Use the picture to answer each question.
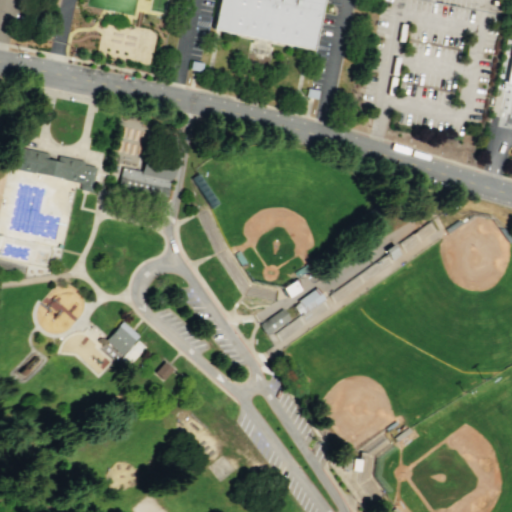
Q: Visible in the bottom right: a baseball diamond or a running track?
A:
baseball diamond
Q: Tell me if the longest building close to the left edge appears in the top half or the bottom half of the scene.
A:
top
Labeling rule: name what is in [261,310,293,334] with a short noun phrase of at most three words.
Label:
building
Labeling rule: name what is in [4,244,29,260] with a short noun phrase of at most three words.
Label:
swimming pool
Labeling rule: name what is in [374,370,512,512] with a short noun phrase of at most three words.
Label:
baseball field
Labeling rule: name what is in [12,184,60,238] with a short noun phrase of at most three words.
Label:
swimming pool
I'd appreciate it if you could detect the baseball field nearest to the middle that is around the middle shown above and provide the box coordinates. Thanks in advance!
[196,142,374,291]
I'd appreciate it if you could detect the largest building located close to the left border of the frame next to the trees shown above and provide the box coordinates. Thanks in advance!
[16,148,97,190]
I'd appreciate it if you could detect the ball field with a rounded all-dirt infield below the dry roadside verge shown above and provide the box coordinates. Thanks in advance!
[311,213,512,372]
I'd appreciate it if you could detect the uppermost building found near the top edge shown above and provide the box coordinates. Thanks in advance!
[214,0,328,51]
